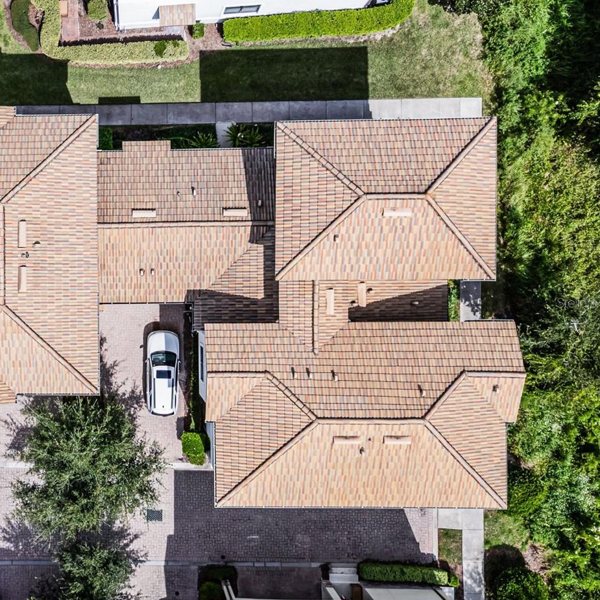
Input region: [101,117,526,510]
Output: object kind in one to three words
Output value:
house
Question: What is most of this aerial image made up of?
buildings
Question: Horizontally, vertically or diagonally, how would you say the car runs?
vertically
